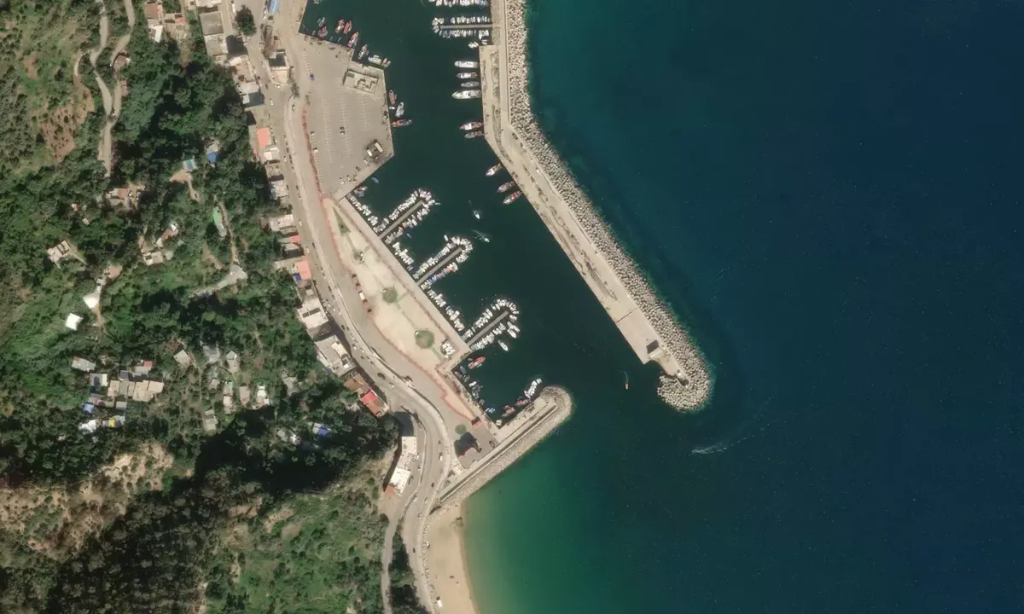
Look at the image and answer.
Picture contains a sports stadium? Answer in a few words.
No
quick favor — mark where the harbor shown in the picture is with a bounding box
[264,0,499,495]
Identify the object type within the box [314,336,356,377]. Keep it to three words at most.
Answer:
building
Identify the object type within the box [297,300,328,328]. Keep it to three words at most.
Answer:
building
